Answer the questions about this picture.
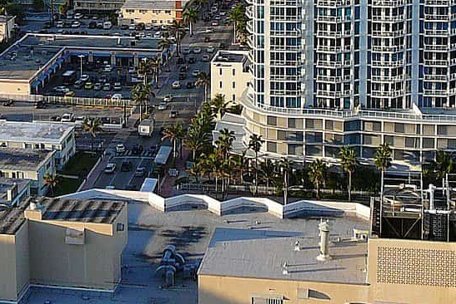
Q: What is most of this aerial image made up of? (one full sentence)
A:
The largest share of the image is taken up by buildings.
